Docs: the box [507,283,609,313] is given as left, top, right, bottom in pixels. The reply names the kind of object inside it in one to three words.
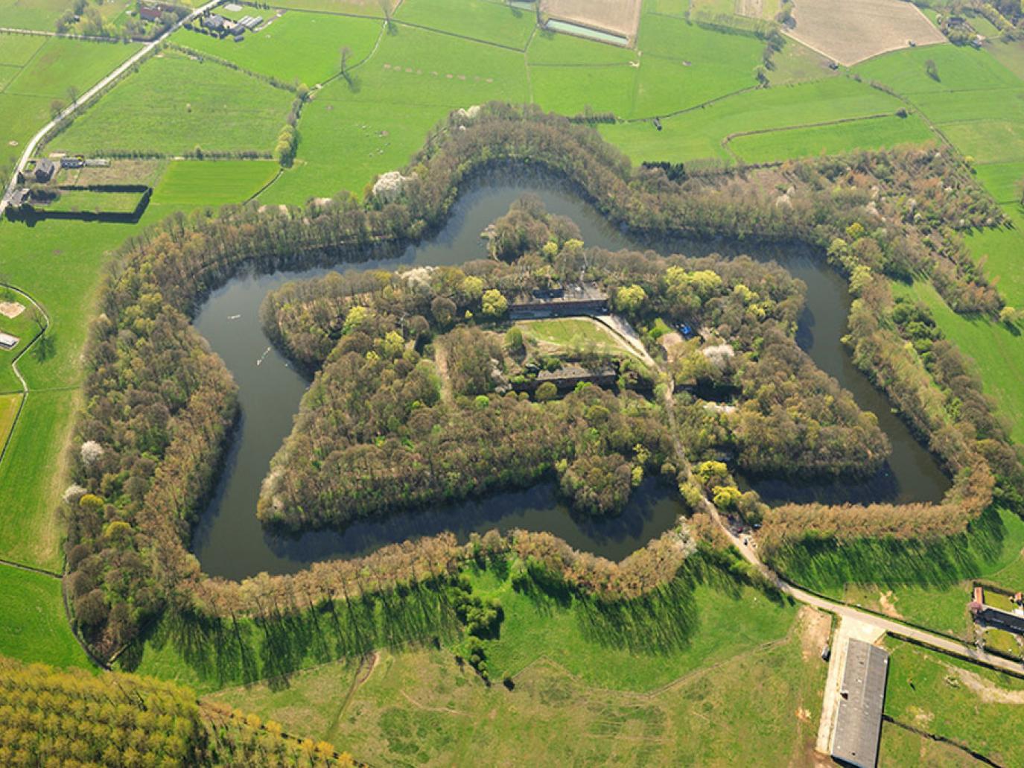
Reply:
building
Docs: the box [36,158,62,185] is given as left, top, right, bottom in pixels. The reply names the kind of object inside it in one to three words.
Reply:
house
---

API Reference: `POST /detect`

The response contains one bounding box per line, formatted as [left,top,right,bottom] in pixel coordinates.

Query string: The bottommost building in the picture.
[828,642,892,768]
